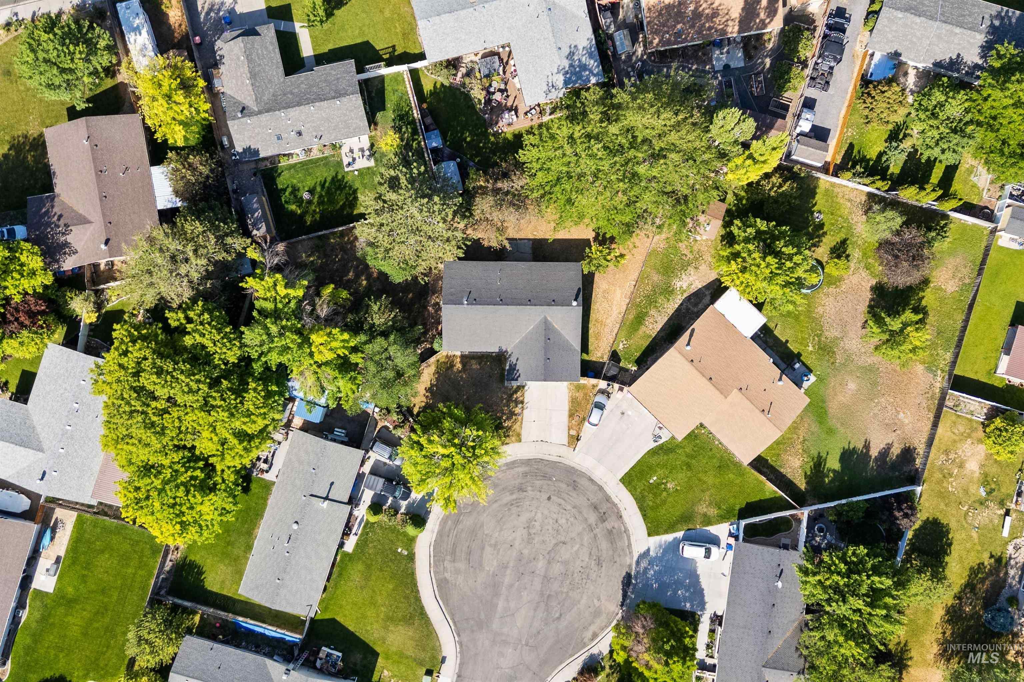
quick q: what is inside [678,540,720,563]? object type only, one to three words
car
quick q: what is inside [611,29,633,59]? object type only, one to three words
greenhouse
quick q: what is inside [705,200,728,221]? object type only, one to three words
shed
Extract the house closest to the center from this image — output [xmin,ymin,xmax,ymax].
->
[443,261,582,382]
